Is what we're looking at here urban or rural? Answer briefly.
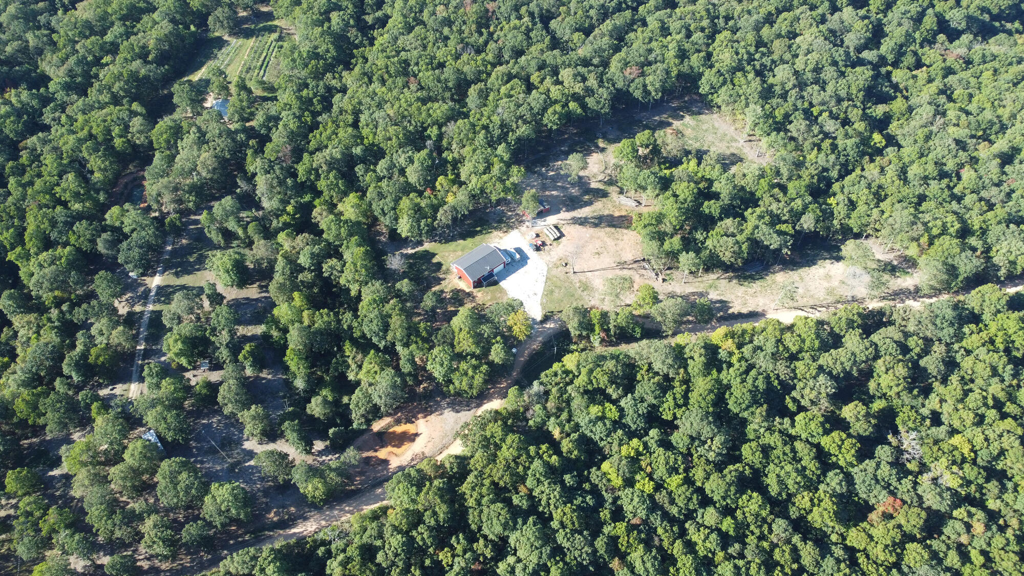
rural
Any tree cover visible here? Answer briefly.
Yes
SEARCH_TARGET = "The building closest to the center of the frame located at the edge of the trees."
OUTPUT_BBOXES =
[450,243,507,289]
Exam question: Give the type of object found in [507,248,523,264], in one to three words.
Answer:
vehicle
